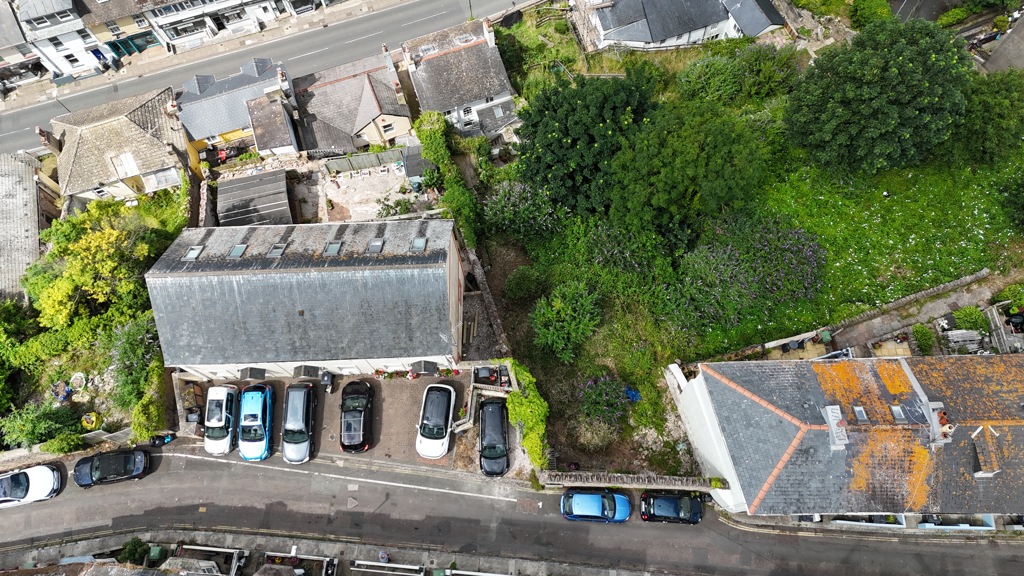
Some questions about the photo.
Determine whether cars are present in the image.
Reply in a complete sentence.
Yes, there's a car here.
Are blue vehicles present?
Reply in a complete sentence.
Yes, this view includes a blue vehicle.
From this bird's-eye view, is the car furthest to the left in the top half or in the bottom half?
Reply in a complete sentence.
It is in the bottom half that the car furthest to the left appears.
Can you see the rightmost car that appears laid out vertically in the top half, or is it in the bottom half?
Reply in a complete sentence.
The rightmost car that appears laid out vertically is in the bottom half of the image.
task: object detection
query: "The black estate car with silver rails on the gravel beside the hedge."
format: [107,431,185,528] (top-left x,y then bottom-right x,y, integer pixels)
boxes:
[476,401,513,477]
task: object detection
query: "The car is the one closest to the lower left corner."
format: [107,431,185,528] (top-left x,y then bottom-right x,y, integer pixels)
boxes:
[0,465,63,509]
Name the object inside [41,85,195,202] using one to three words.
house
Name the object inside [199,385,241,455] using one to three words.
car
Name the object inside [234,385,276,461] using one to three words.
car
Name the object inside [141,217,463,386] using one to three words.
building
